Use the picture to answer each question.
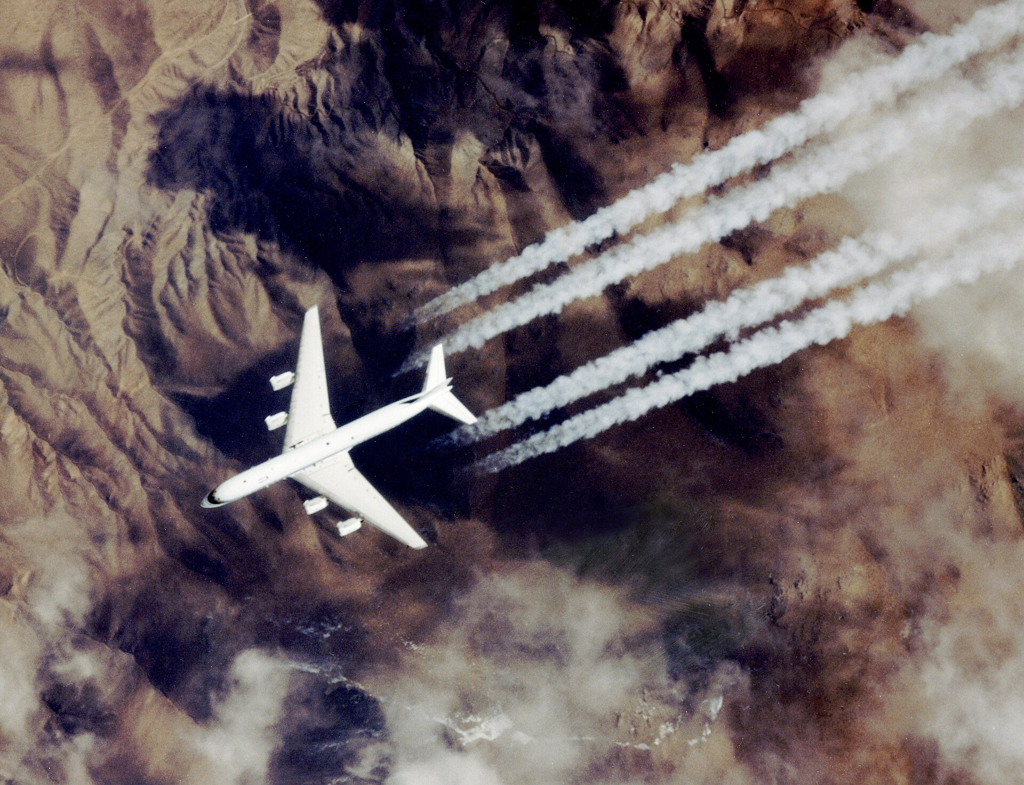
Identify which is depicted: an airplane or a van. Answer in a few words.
airplane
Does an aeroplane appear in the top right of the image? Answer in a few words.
No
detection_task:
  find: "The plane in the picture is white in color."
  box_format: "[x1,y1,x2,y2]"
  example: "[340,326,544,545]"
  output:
[203,309,475,547]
